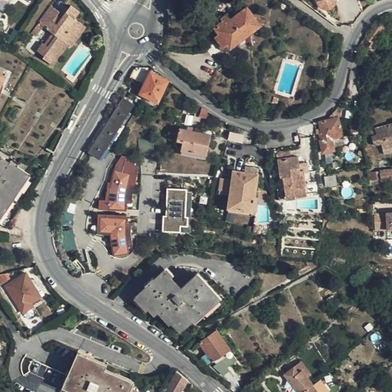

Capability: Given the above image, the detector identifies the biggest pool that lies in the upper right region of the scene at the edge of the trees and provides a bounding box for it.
[275,59,304,97]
